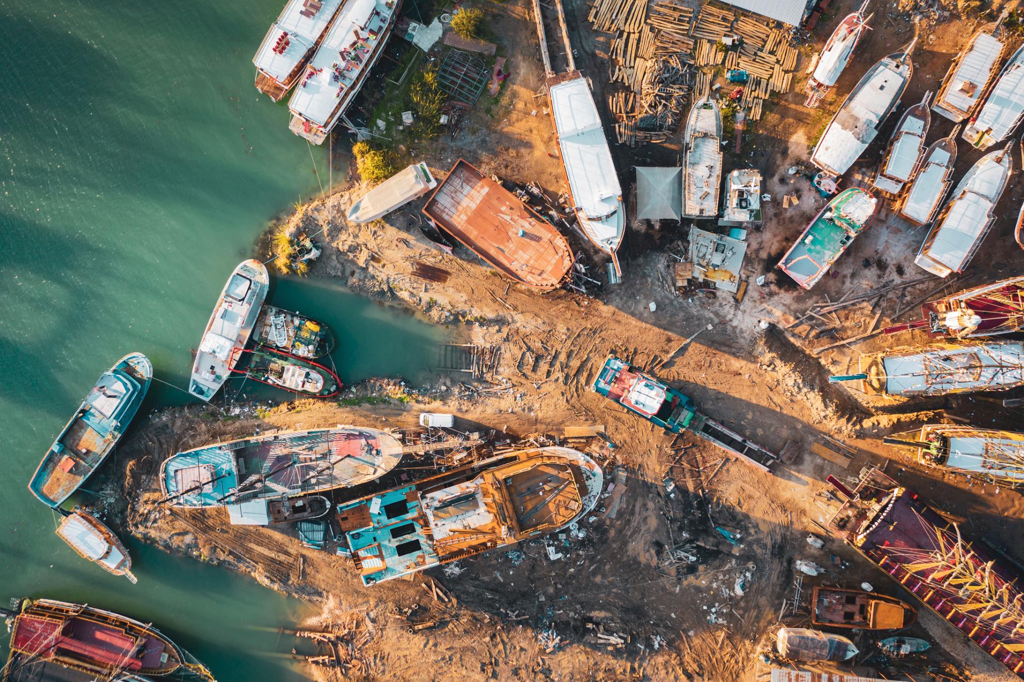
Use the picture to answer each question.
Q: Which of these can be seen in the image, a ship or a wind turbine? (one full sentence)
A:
There is a ship in the scene.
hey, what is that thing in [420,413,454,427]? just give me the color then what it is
white vehicle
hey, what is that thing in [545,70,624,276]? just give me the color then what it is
white boat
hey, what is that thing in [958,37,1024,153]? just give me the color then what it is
white boat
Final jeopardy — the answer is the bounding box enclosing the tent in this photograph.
[635,166,683,223]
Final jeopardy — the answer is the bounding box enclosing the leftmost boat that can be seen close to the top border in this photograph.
[253,0,346,104]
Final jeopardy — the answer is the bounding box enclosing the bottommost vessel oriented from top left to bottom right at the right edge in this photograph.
[824,468,1024,682]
